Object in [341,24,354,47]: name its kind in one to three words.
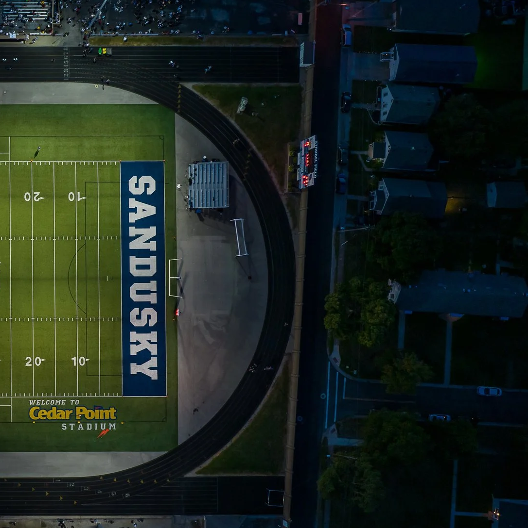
vehicle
